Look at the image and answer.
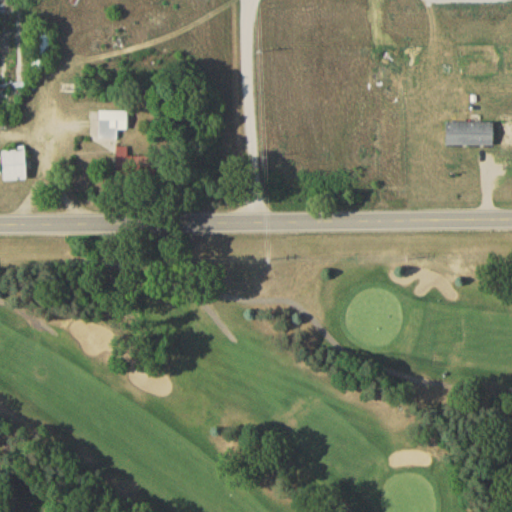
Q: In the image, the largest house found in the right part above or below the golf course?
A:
above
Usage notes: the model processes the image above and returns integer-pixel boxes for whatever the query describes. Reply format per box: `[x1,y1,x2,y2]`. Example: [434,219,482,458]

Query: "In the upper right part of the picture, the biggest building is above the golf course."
[446,114,494,149]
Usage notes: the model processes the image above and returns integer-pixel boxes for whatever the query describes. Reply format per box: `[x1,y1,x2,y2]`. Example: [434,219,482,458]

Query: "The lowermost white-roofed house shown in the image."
[1,144,26,182]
